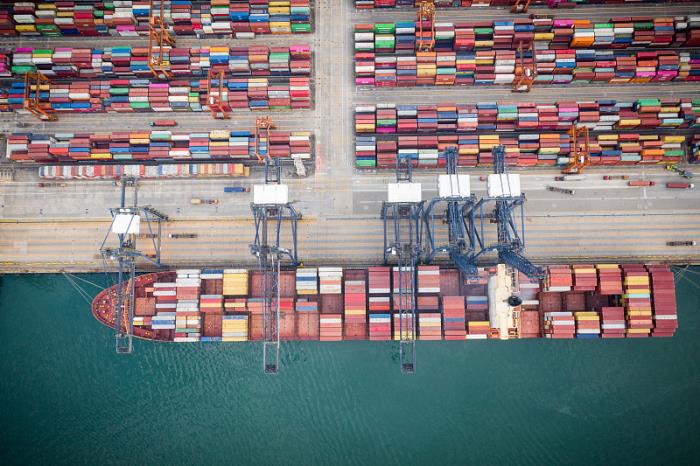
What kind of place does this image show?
port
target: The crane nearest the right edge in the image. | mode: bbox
[560,125,592,174]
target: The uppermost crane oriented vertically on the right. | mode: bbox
[413,1,437,54]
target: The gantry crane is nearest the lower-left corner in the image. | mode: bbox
[102,176,176,354]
